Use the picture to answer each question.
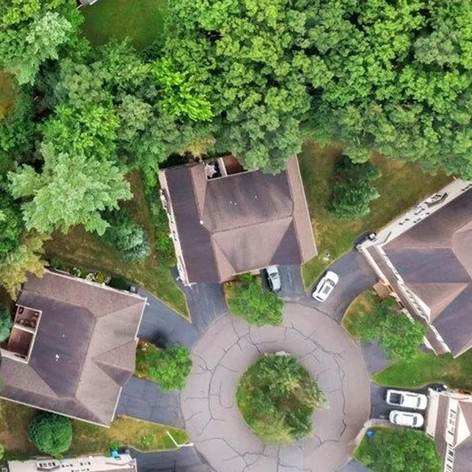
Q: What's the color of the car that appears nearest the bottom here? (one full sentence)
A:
From above, the car that appears nearest the bottom appears white.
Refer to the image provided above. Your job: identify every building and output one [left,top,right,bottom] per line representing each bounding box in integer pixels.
[0,262,147,423]
[157,152,317,286]
[359,178,472,357]
[8,454,137,472]
[420,388,472,472]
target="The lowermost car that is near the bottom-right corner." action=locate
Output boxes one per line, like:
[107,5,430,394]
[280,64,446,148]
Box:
[390,411,426,431]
